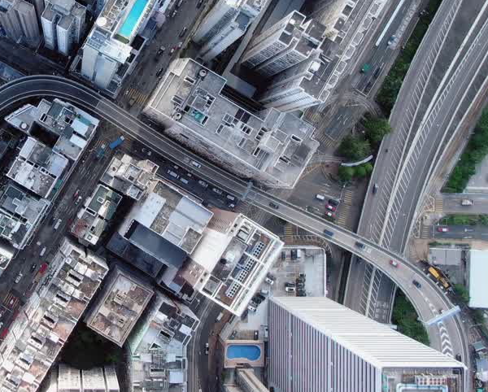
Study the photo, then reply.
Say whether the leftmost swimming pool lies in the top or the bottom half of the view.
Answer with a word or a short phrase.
top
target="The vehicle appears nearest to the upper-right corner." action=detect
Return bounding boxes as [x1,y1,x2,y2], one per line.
[385,32,401,49]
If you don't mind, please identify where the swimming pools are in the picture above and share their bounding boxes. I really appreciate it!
[228,345,261,361]
[119,0,146,38]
